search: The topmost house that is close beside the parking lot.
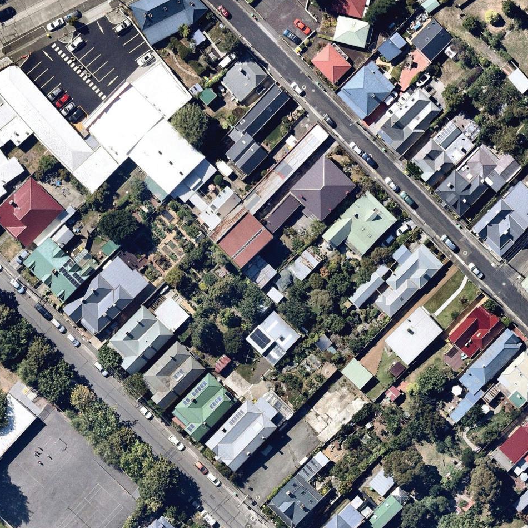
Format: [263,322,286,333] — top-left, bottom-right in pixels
[129,0,204,43]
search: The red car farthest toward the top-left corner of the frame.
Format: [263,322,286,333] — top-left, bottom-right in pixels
[55,94,71,107]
